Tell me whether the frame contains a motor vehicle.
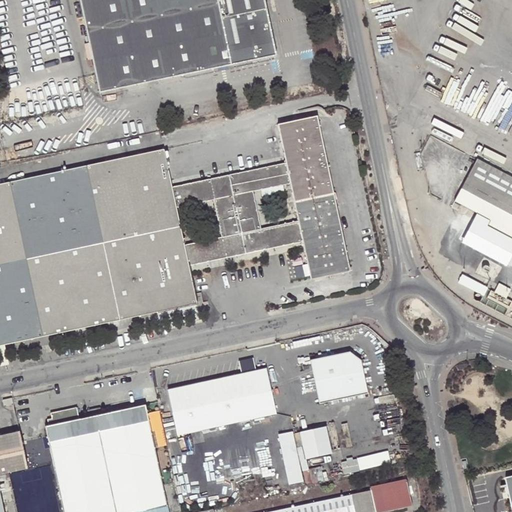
Yes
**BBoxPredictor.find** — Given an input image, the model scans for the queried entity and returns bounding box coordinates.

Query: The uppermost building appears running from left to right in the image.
[80,0,276,92]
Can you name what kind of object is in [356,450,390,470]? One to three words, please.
shed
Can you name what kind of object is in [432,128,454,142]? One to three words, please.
vehicle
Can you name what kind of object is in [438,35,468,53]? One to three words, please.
vehicle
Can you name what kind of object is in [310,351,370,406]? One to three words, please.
building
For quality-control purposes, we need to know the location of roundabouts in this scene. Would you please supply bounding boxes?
[376,256,480,384]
